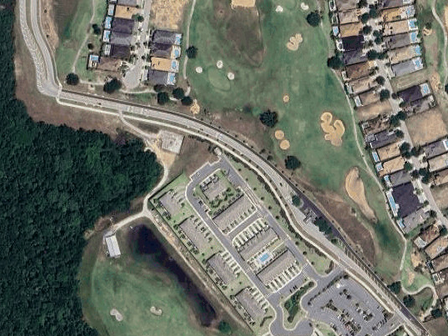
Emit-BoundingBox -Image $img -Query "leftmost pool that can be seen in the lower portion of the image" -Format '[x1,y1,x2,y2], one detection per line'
[253,246,276,269]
